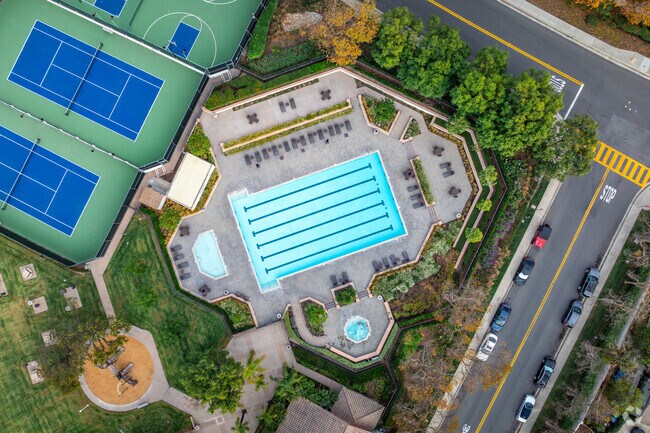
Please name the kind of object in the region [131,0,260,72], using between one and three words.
basketball court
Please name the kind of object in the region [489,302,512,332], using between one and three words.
car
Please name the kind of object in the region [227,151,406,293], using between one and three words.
swimming pool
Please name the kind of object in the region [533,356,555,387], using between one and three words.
car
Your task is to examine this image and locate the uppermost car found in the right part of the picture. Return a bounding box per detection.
[529,224,552,251]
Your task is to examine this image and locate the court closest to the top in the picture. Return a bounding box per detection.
[58,0,145,32]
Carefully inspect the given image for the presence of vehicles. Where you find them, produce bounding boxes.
[512,256,534,286]
[560,298,583,328]
[477,331,499,361]
[533,356,555,387]
[529,224,552,251]
[489,302,512,332]
[576,267,600,298]
[514,392,536,423]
